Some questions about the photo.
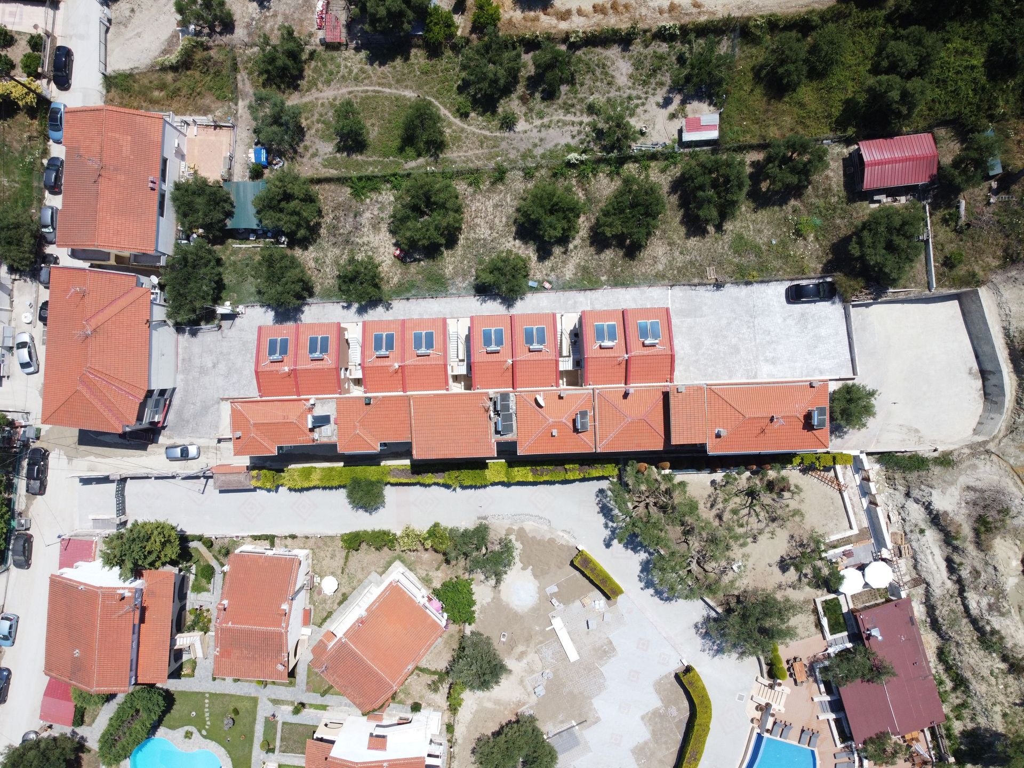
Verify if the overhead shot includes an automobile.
Yes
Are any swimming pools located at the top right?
No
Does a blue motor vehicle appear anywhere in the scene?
Yes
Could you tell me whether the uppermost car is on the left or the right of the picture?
left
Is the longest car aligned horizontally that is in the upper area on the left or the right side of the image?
right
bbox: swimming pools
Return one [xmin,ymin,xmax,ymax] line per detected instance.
[127,734,225,768]
[743,732,822,768]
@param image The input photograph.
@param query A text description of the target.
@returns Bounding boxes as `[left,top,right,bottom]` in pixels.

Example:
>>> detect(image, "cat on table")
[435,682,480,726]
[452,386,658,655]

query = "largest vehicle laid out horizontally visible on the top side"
[785,280,835,303]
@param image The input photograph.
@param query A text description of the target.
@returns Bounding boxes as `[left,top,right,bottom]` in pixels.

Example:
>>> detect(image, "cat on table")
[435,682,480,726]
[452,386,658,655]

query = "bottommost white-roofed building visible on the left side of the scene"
[306,696,443,768]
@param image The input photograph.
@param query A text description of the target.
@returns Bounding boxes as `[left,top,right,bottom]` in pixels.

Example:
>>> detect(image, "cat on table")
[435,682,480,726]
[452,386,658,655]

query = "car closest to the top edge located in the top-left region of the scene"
[50,45,77,92]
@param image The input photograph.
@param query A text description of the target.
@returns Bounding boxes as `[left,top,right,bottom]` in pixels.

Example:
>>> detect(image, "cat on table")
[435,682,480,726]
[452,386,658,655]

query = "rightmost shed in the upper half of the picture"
[857,133,938,205]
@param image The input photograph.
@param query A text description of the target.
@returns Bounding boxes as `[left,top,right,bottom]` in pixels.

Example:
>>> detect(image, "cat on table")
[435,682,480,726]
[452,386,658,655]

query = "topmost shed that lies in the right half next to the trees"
[680,113,719,146]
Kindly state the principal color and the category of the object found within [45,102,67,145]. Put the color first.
blue car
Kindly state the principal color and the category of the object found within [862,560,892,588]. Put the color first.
white umbrella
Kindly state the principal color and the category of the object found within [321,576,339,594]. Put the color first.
white umbrella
